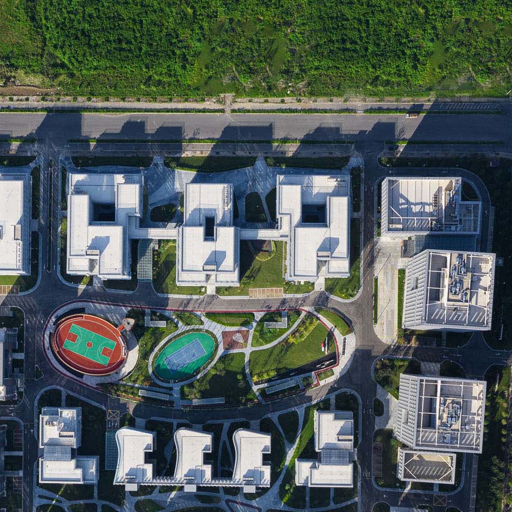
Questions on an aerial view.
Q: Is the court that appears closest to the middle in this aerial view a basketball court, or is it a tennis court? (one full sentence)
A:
The court that appears closest to the middle appears to be a tennis court.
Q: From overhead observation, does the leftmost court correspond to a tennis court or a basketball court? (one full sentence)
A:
The leftmost court in the image is a basketball court.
